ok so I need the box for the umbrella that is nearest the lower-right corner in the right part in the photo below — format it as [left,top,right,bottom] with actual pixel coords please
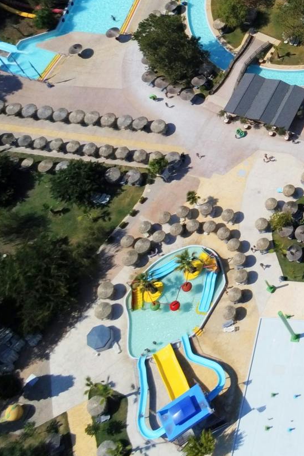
[222,304,239,322]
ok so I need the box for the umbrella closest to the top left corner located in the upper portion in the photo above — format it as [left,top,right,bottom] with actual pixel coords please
[68,43,85,56]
